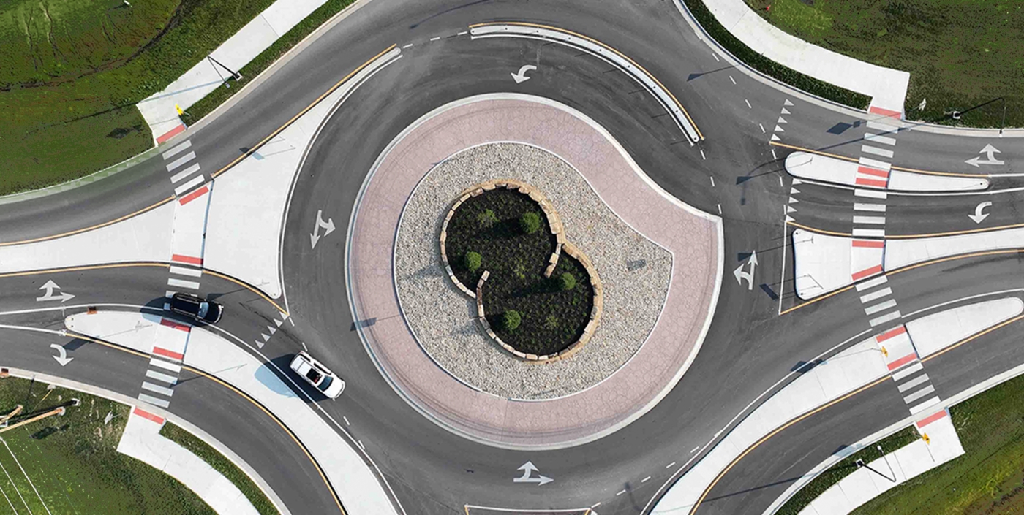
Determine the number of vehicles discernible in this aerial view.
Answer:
2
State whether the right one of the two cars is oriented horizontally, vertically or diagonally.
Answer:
diagonally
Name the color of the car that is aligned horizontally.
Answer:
black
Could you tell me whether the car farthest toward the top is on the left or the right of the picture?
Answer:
left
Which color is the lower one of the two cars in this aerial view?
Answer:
white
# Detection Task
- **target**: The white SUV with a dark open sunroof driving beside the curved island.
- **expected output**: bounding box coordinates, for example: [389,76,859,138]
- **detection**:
[289,350,344,397]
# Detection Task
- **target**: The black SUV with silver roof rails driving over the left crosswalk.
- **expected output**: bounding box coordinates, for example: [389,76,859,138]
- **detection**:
[169,293,223,323]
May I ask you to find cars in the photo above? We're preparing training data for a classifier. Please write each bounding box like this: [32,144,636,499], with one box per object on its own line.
[289,350,344,397]
[169,293,223,323]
